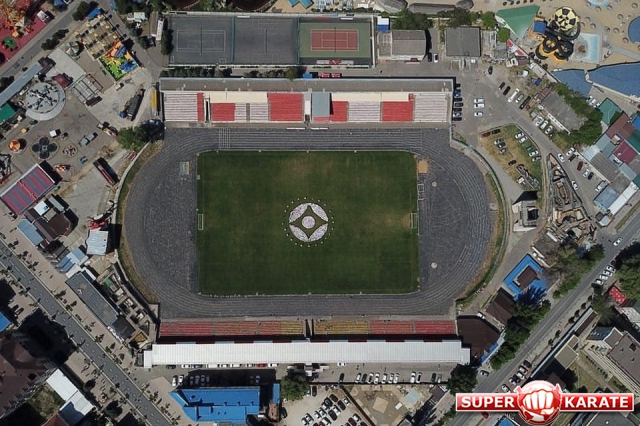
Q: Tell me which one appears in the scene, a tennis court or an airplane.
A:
tennis court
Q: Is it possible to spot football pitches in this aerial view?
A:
Yes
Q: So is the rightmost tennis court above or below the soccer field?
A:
above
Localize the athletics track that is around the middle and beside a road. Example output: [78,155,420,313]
[124,127,492,317]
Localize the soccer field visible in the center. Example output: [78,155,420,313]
[197,151,419,294]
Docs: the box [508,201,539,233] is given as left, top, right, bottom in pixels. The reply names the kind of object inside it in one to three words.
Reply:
building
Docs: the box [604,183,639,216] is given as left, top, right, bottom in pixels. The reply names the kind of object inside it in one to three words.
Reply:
house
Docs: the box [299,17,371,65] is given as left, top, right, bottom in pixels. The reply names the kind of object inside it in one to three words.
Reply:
tennis court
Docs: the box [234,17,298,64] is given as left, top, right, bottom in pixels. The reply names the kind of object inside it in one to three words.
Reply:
basketball court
